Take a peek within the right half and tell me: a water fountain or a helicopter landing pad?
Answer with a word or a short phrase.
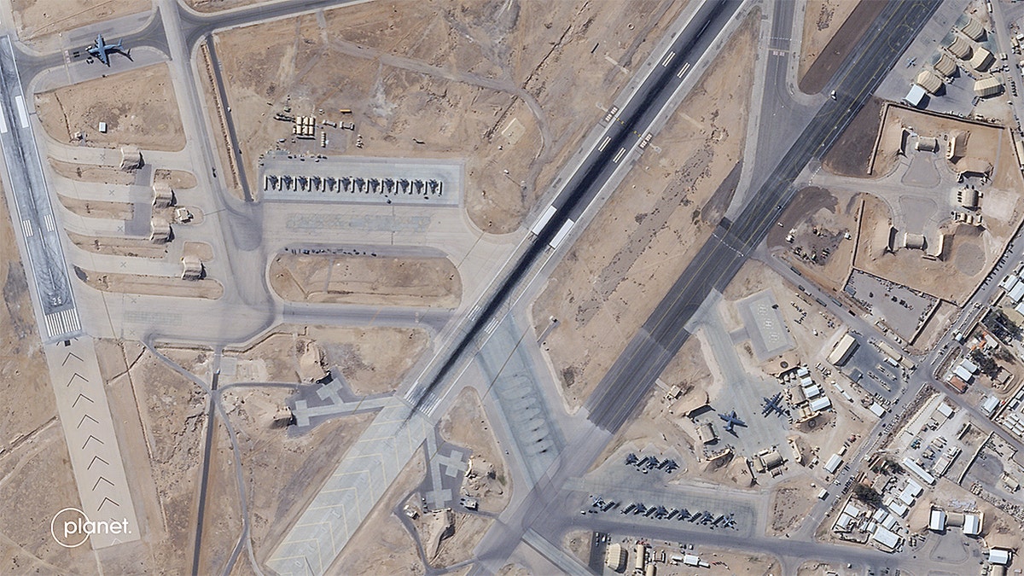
helicopter landing pad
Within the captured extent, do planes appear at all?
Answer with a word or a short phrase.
Yes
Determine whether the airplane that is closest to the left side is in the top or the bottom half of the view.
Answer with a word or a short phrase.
top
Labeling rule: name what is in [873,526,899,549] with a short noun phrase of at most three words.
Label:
shed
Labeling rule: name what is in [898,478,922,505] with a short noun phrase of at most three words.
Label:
building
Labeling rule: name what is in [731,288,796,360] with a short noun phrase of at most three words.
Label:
helipad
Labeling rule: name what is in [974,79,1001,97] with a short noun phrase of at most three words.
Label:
hangar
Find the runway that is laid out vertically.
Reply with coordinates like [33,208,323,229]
[0,34,81,339]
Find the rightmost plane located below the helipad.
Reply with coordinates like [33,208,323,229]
[765,393,783,415]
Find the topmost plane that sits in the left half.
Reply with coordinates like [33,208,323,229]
[87,29,127,65]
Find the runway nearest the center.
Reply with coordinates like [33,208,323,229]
[401,0,744,420]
